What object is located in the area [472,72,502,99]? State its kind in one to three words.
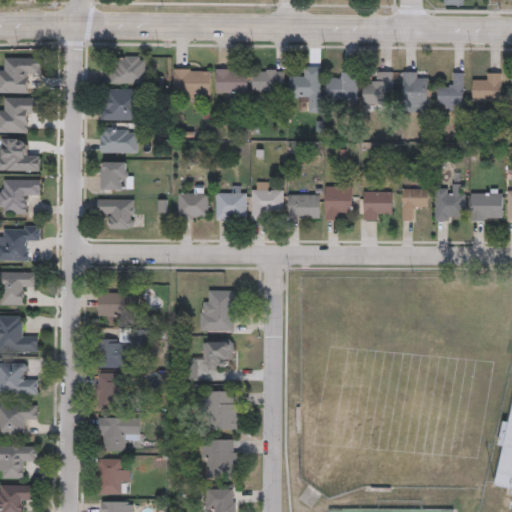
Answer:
house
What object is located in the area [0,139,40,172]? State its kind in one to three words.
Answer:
house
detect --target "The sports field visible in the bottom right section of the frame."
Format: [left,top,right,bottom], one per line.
[315,346,494,458]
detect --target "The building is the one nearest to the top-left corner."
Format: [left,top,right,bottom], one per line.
[0,57,40,92]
